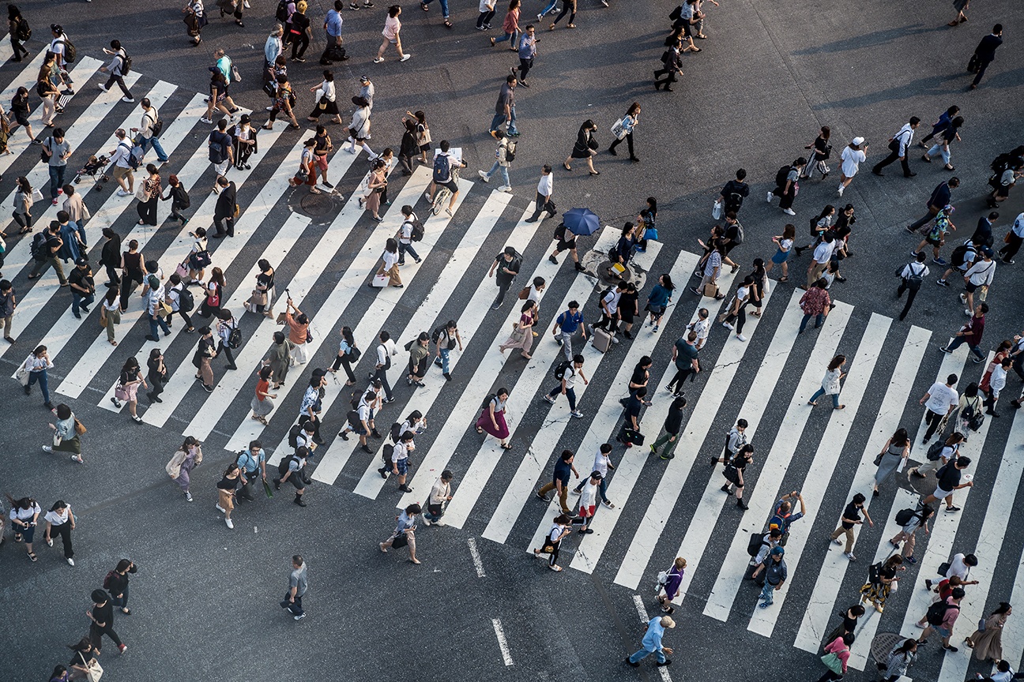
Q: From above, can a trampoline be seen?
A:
No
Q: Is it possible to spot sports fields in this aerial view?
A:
No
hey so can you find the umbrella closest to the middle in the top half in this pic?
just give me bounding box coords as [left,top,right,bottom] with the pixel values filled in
[563,205,603,231]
